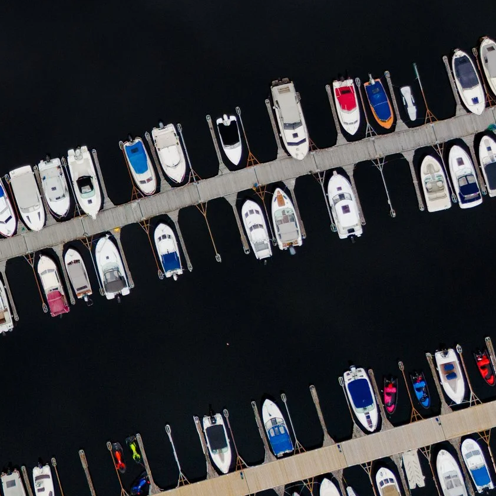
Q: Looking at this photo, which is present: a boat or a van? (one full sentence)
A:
There is a boat in the scene.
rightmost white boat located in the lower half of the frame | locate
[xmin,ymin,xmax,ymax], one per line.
[464,439,492,496]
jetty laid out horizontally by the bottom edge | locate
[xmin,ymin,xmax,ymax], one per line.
[146,399,496,496]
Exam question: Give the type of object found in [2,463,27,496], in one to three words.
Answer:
boat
